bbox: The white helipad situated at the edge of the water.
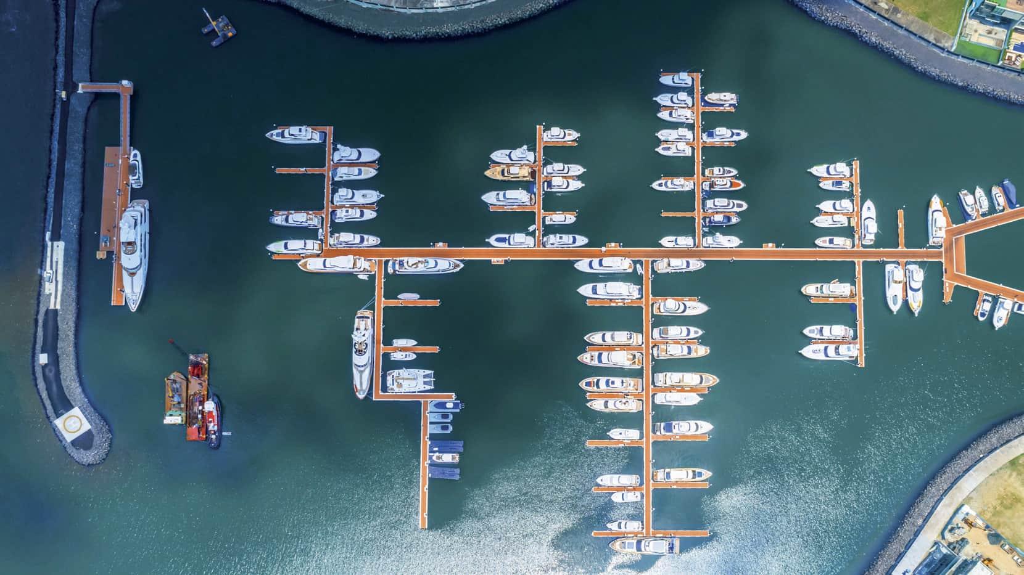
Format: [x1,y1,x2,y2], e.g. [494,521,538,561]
[55,407,91,442]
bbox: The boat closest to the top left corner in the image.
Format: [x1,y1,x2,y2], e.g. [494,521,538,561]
[130,149,143,191]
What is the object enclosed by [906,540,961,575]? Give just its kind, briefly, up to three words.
house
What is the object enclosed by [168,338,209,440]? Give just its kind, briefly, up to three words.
ship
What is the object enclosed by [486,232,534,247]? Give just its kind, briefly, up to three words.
boat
